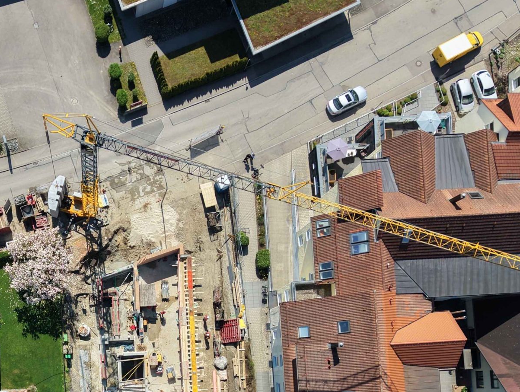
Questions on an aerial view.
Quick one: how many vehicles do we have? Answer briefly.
4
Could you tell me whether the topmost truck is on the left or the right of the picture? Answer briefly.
right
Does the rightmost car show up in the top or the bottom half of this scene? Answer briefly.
top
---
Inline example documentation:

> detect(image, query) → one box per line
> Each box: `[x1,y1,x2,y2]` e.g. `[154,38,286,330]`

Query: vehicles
[450,78,474,118]
[470,67,497,107]
[428,28,484,71]
[323,86,369,116]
